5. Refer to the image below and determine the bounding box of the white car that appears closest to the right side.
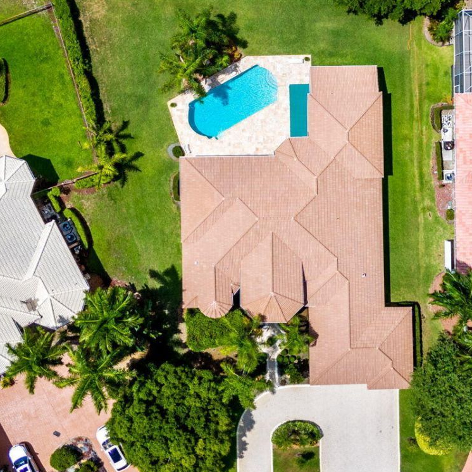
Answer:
[93,425,126,472]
